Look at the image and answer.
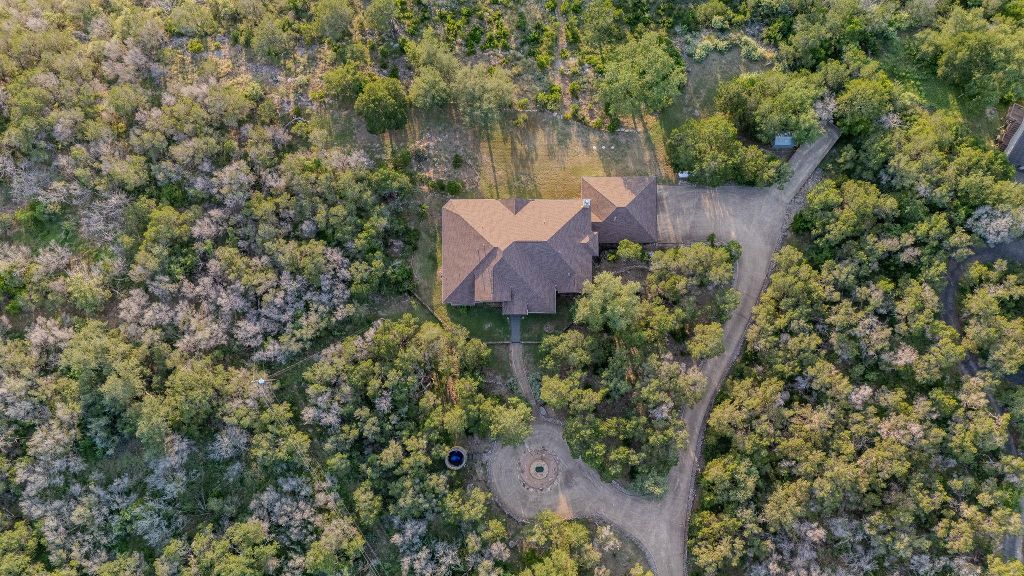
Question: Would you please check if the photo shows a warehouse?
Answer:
No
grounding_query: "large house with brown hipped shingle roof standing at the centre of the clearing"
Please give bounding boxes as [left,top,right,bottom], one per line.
[442,198,598,315]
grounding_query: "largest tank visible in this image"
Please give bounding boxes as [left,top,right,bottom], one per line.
[444,445,468,470]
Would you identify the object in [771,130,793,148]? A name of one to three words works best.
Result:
shed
